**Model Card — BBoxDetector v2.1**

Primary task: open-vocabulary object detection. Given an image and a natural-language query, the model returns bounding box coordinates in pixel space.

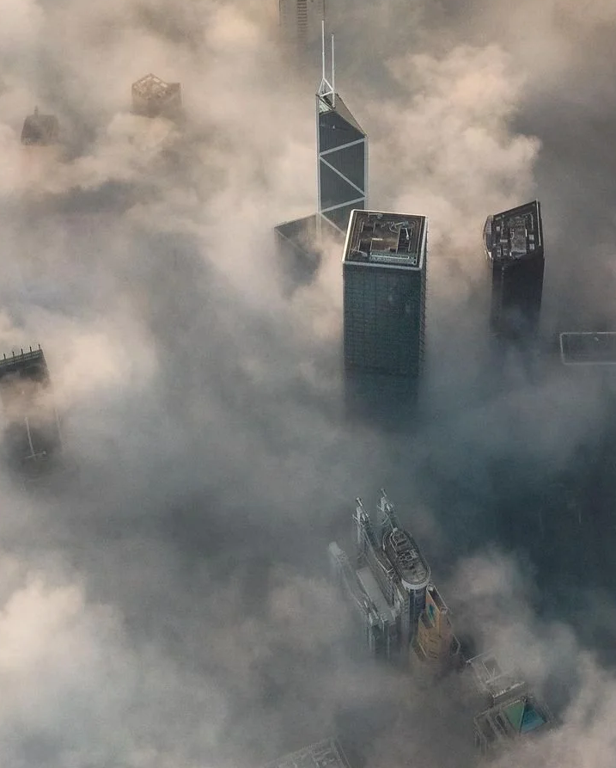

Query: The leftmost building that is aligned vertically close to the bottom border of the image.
[330,488,400,767]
